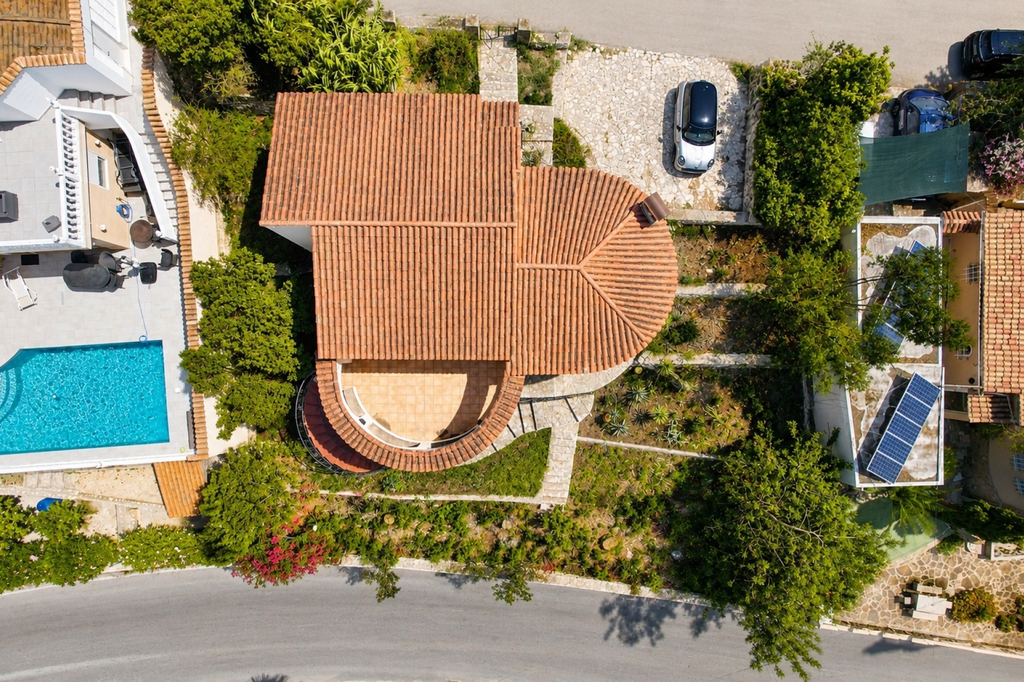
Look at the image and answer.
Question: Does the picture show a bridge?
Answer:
No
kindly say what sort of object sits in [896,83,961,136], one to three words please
car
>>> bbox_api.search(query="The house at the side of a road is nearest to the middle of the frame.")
[257,92,681,473]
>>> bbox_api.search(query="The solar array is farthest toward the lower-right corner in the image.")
[848,371,941,485]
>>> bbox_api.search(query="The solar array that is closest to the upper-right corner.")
[858,240,942,350]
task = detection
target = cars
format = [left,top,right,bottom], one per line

[672,73,729,175]
[950,28,1024,90]
[896,83,961,136]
